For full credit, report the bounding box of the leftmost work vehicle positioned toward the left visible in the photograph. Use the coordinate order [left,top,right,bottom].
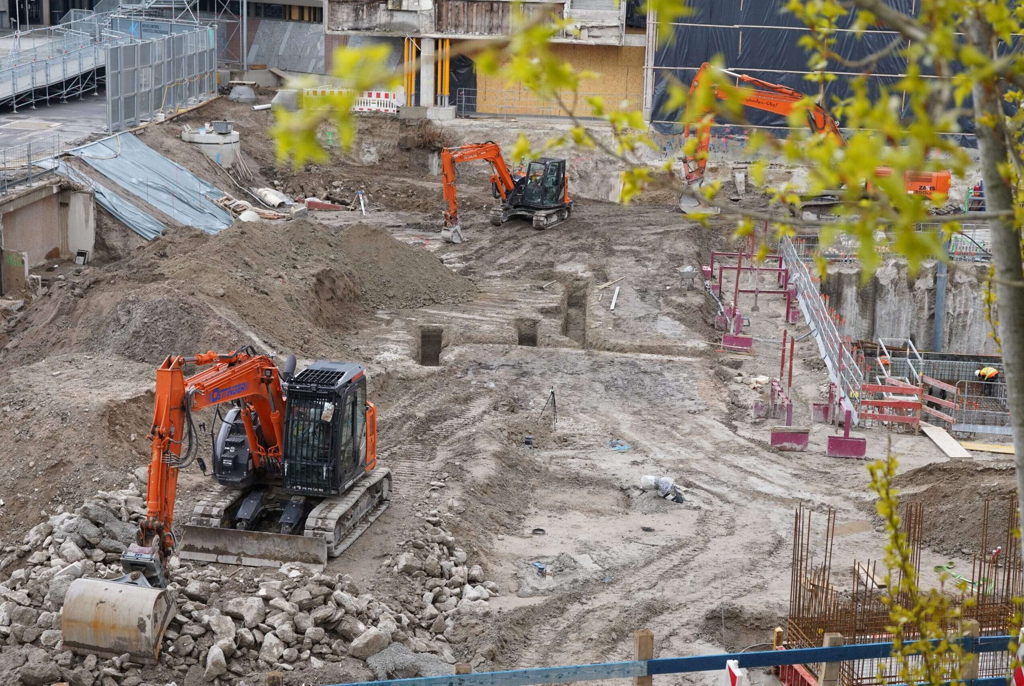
[60,344,390,670]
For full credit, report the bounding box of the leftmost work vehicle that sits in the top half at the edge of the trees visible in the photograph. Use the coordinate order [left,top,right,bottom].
[434,140,575,243]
